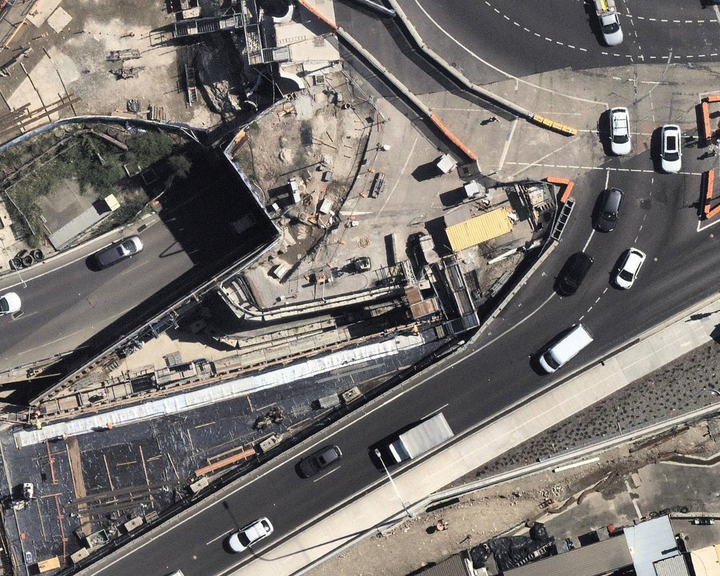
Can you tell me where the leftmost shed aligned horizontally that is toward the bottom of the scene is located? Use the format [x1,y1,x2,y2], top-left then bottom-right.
[419,551,475,576]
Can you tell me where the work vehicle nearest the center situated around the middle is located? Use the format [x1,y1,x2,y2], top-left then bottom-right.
[341,253,375,274]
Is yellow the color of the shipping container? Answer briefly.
Yes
